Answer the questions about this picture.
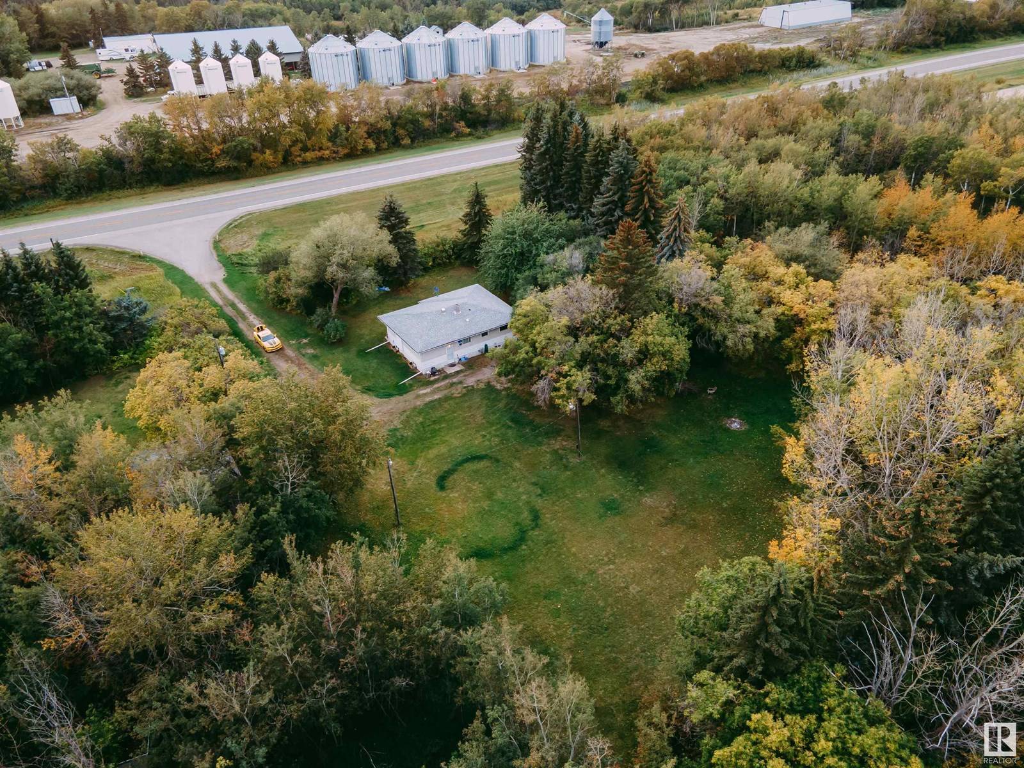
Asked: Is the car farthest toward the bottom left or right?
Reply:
left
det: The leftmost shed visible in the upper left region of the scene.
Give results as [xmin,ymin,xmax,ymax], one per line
[47,97,84,115]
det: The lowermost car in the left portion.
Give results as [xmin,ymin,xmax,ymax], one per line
[254,321,282,351]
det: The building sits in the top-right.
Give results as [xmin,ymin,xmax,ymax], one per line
[754,0,853,29]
